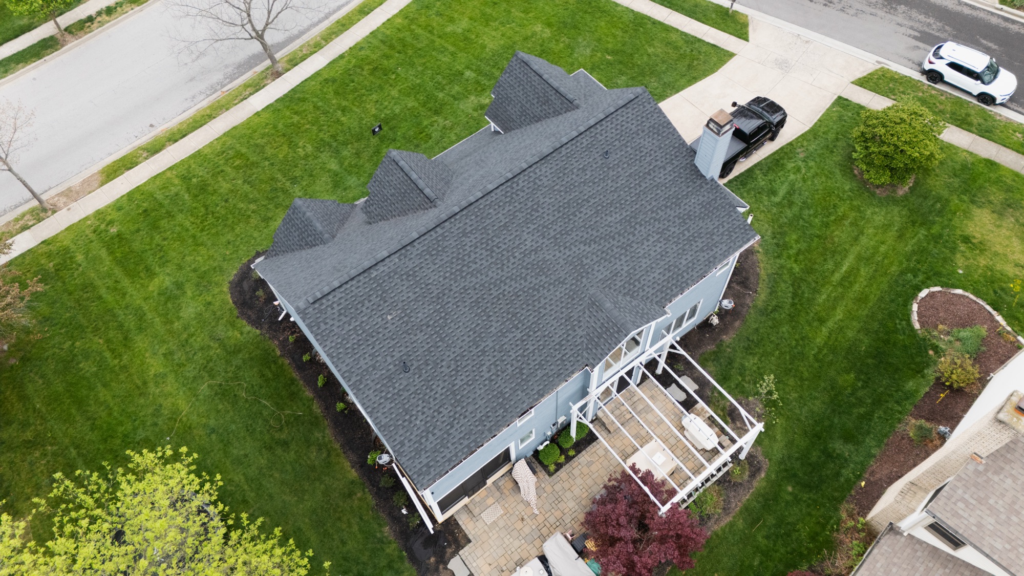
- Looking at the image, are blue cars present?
No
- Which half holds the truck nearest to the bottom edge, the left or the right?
right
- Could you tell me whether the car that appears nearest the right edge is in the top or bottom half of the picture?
top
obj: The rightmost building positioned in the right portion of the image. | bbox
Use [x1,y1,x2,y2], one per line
[842,349,1024,576]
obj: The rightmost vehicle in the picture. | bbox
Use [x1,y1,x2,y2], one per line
[920,42,1018,106]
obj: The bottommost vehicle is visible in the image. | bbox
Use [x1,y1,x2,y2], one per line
[720,95,795,176]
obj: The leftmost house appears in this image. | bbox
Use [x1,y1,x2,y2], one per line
[243,51,762,526]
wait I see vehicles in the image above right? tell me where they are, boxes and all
[920,42,1018,106]
[720,95,795,176]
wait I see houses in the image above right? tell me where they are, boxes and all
[842,349,1024,576]
[243,51,762,526]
